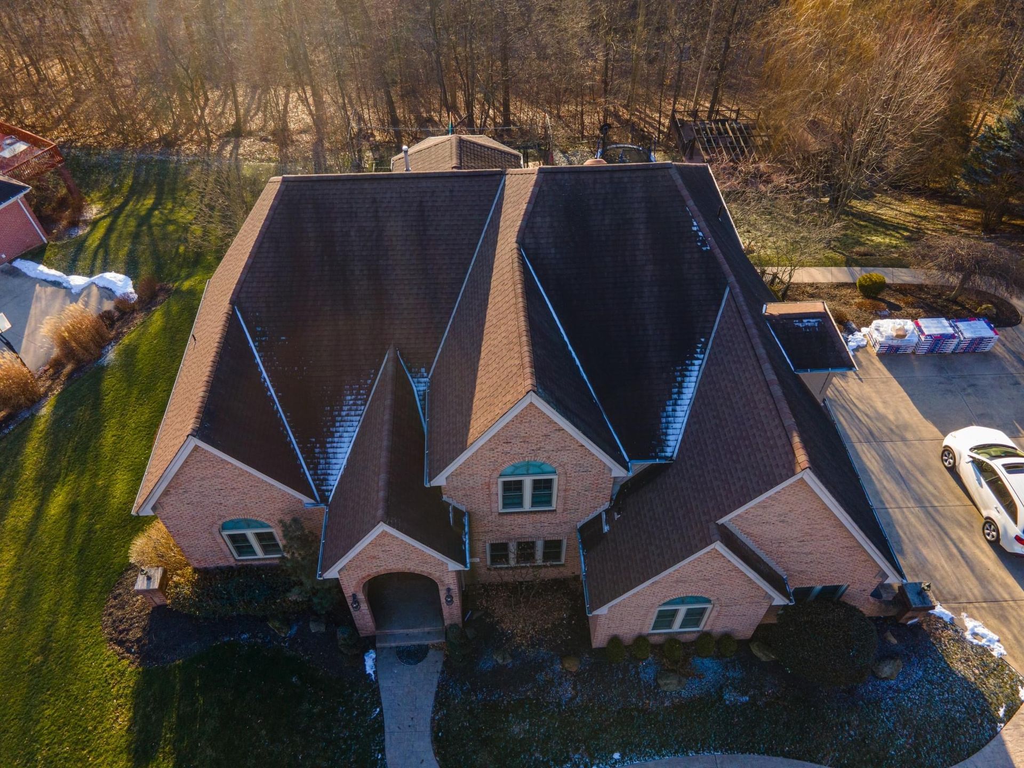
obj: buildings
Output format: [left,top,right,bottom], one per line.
[0,167,50,271]
[137,134,903,647]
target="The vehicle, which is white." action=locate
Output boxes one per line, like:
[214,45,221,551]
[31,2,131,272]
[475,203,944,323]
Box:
[942,429,1024,566]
